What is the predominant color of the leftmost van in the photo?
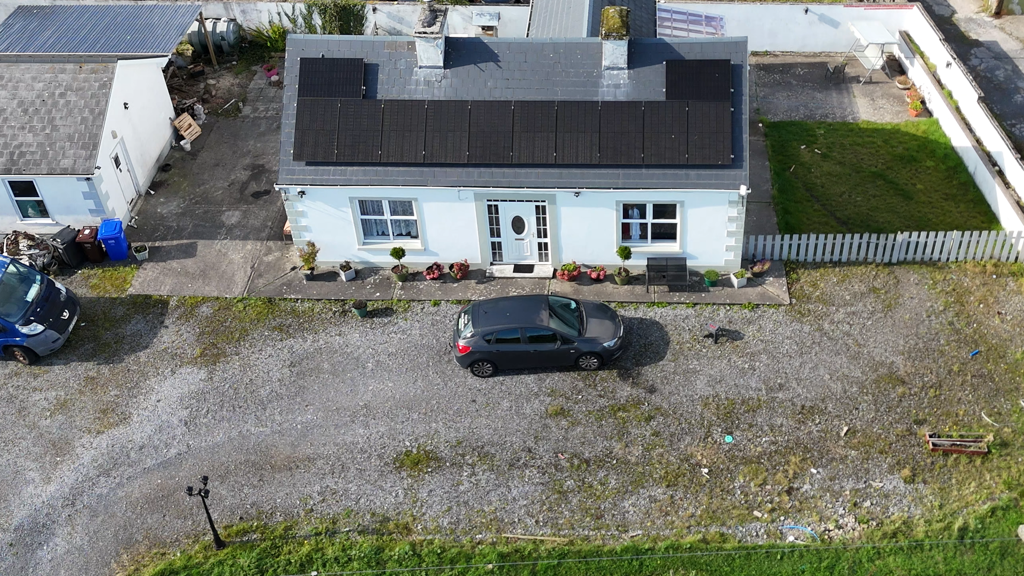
black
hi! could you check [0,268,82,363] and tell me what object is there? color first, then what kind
black van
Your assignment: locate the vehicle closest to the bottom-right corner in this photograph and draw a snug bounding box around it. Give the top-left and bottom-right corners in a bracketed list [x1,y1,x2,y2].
[448,290,625,378]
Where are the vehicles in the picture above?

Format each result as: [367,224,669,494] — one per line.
[0,268,82,363]
[448,290,625,378]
